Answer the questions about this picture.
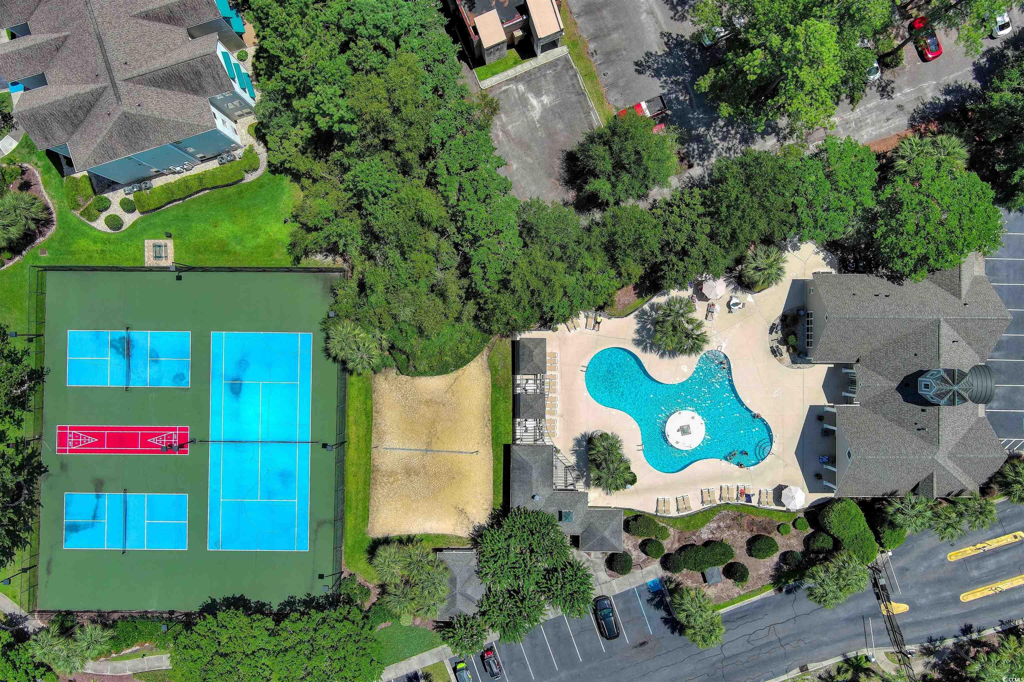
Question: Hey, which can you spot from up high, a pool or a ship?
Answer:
pool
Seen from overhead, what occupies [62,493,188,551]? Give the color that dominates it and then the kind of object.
blue sports court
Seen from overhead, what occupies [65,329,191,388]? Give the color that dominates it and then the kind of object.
blue sports court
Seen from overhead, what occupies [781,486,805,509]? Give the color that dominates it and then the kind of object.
white umbrella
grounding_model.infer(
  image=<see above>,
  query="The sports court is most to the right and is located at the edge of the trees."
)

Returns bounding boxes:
[367,339,496,539]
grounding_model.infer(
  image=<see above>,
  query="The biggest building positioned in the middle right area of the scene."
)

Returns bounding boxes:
[805,247,1013,504]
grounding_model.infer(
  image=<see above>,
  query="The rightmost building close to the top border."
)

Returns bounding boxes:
[453,0,563,64]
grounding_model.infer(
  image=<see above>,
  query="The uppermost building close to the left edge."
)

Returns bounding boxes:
[0,0,256,183]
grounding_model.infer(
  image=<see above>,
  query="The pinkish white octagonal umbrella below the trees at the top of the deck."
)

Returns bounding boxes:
[702,277,725,299]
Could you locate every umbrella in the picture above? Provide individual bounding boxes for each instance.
[781,486,805,509]
[702,277,725,299]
